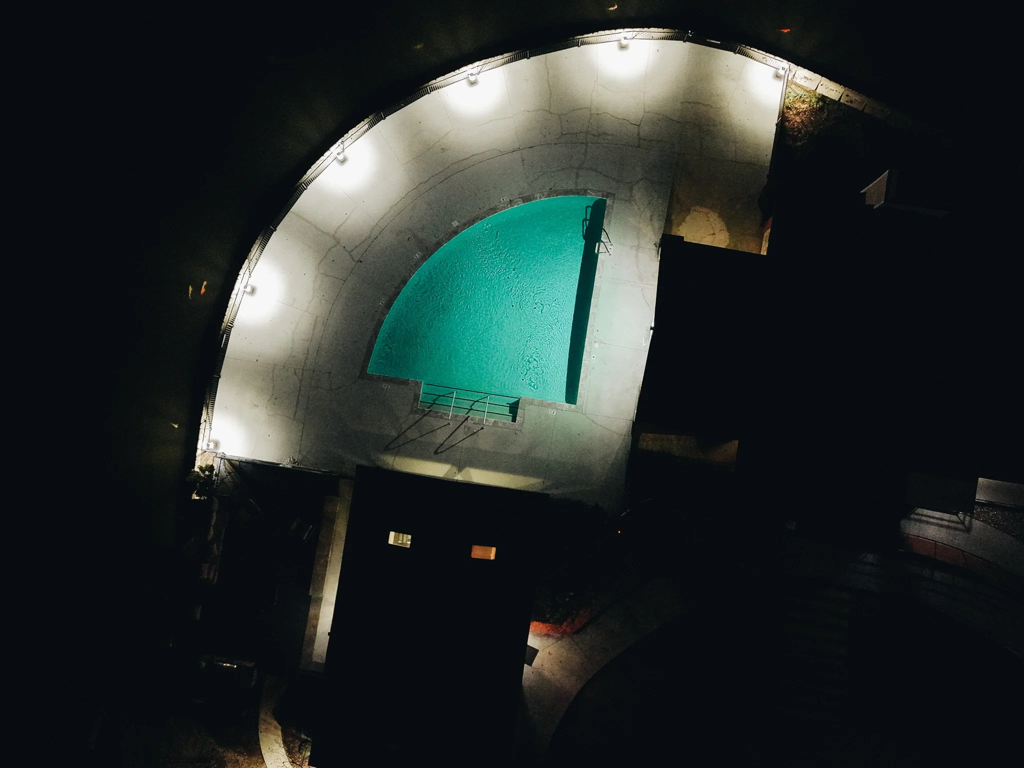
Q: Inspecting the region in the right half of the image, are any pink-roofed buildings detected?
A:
No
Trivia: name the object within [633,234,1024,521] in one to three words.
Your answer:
building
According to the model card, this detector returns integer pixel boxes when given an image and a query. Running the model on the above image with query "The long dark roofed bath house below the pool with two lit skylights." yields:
[309,465,550,768]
